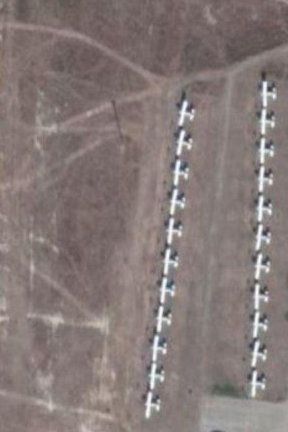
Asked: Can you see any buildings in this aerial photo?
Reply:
No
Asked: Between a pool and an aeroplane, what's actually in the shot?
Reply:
aeroplane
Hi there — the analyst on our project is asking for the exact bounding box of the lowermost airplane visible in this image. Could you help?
[144,393,160,419]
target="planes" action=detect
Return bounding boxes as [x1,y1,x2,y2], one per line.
[165,219,182,245]
[176,130,192,155]
[260,81,276,107]
[172,160,188,185]
[254,254,269,279]
[155,306,171,332]
[151,336,166,362]
[251,341,267,366]
[179,101,194,126]
[250,372,265,398]
[162,249,178,275]
[144,393,160,419]
[257,166,272,192]
[169,189,185,215]
[259,109,275,134]
[159,277,175,303]
[252,284,268,309]
[148,364,164,389]
[258,138,273,164]
[254,225,270,250]
[251,312,267,337]
[256,195,272,221]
